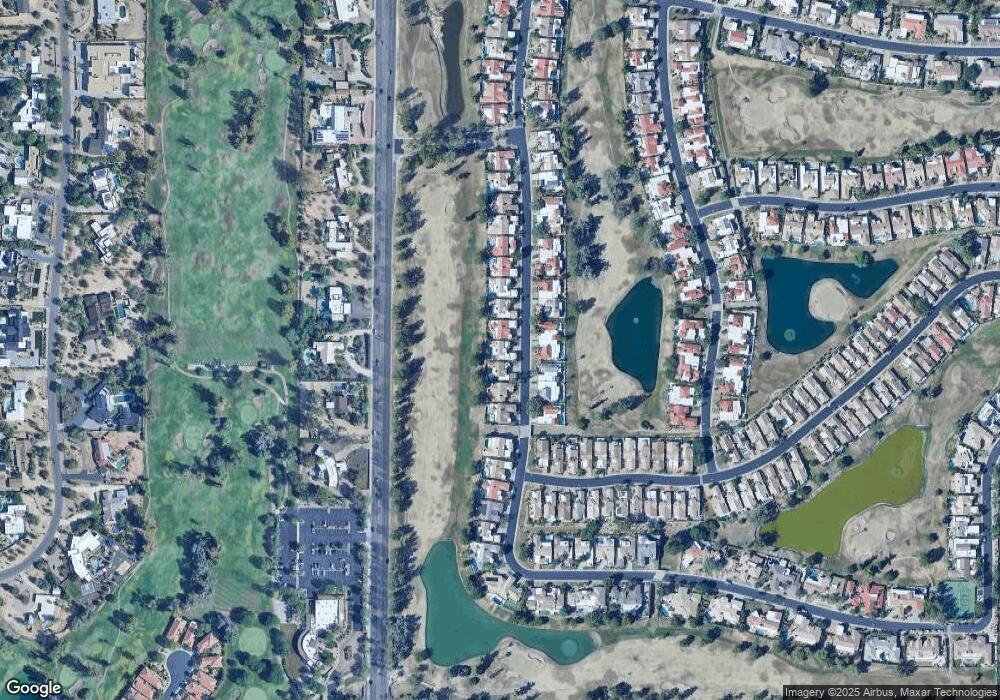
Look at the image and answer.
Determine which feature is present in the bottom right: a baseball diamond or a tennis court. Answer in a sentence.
The one visible in the bottom right is a tennis court.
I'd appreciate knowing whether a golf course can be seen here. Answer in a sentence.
Yes, a golf course is visible in the scene.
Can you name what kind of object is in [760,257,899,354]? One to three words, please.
pond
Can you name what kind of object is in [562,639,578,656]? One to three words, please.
fountain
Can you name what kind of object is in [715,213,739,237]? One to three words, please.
house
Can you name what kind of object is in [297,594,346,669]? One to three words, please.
building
